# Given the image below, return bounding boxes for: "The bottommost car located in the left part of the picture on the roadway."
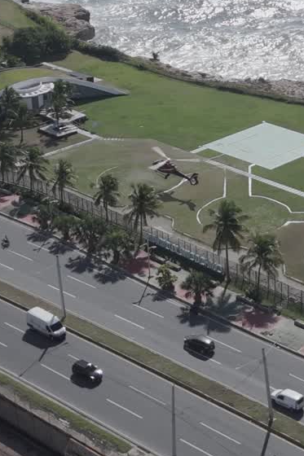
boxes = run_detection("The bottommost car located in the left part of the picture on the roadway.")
[72,353,110,381]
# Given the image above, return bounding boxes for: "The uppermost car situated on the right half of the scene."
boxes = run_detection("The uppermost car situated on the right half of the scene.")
[187,331,222,352]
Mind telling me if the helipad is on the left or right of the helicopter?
to the right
